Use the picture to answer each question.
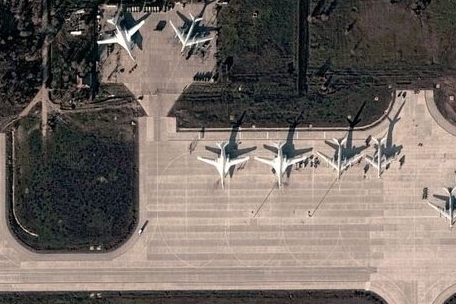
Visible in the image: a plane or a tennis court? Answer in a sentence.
The image shows a plane.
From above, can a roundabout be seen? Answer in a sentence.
No, no roundabout can be seen from above.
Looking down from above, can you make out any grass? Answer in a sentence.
Yes, there is grass in the image.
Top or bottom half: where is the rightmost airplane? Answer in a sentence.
You can find the rightmost airplane in the bottom half.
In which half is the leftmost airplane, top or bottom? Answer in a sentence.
Seen from above, the leftmost airplane lies in the top half of the view.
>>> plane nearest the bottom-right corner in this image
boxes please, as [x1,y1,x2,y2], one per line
[427,184,456,228]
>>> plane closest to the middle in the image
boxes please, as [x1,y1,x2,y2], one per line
[197,139,249,188]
